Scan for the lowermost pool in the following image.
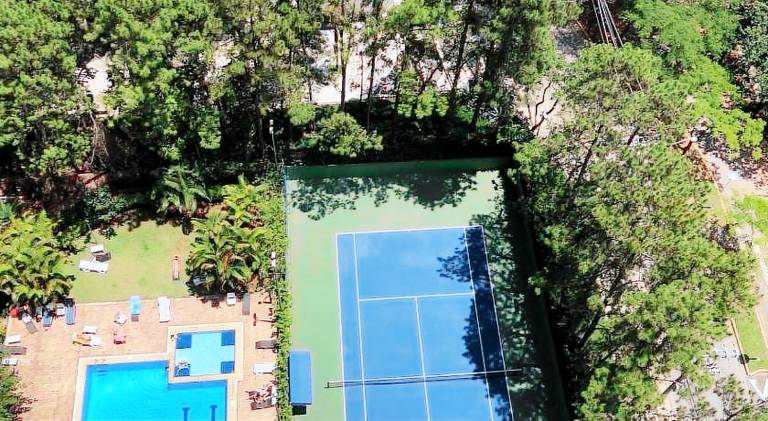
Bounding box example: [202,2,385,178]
[70,354,238,421]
